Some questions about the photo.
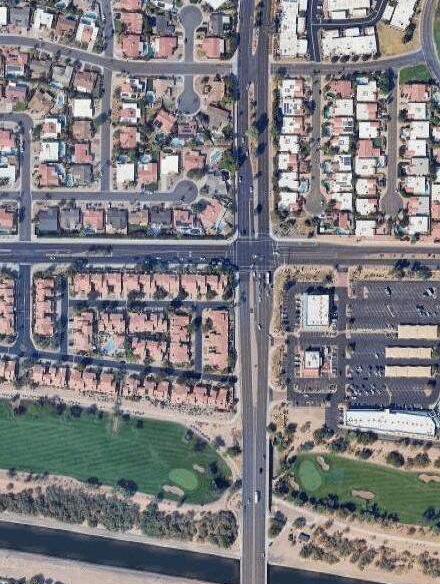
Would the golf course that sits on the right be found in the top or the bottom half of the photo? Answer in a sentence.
The golf course that sits on the right is in the bottom half of the image.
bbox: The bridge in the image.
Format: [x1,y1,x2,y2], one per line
[241,391,268,584]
